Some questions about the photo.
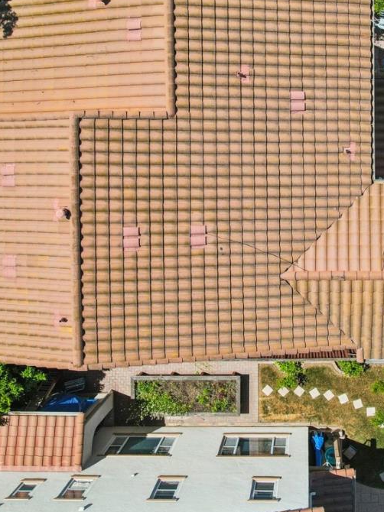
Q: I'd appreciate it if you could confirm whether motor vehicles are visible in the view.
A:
No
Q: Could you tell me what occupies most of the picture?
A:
buildings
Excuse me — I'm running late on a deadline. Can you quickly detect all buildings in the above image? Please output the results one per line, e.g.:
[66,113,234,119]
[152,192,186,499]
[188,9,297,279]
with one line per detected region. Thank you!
[0,389,357,512]
[0,0,384,372]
